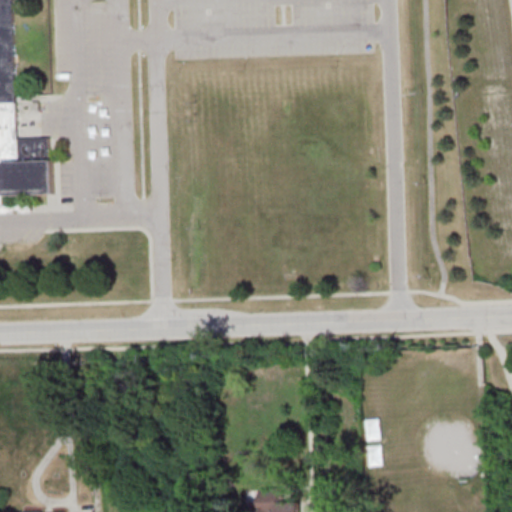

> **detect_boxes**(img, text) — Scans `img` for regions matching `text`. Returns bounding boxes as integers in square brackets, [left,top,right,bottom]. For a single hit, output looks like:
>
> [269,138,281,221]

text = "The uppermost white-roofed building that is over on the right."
[364,418,382,442]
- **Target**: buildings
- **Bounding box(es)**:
[0,0,49,194]
[366,444,384,470]
[364,418,382,442]
[254,489,298,512]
